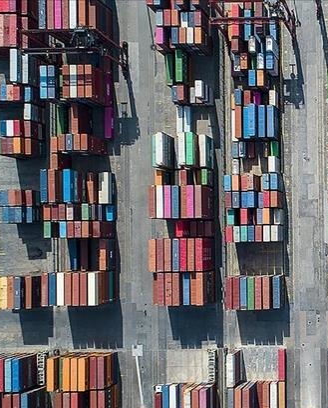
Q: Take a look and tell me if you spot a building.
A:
No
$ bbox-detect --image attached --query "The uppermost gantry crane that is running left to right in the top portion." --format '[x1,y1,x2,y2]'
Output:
[208,0,299,45]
